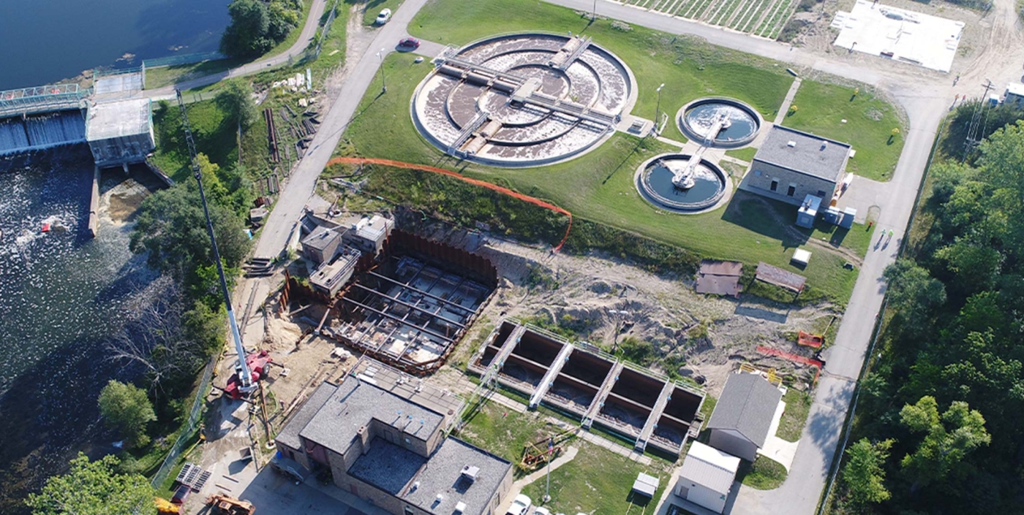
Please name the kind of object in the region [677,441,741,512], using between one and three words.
shed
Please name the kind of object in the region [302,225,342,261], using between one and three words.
building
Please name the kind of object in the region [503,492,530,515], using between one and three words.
truck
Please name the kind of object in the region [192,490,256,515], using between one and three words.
work vehicle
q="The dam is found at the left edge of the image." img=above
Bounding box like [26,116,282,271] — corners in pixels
[0,109,90,160]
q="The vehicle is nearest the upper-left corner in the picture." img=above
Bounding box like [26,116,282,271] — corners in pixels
[376,9,390,22]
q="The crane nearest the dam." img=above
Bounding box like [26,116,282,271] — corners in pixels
[173,88,293,416]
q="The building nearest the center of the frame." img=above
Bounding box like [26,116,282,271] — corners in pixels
[353,214,394,248]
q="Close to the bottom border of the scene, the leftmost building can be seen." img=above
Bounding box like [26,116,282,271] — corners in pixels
[276,368,513,515]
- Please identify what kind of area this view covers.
industrial area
